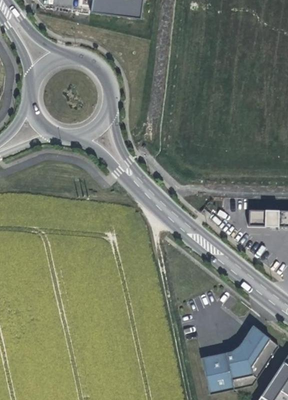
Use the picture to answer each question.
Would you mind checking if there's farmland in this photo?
Yes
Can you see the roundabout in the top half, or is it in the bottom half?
top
